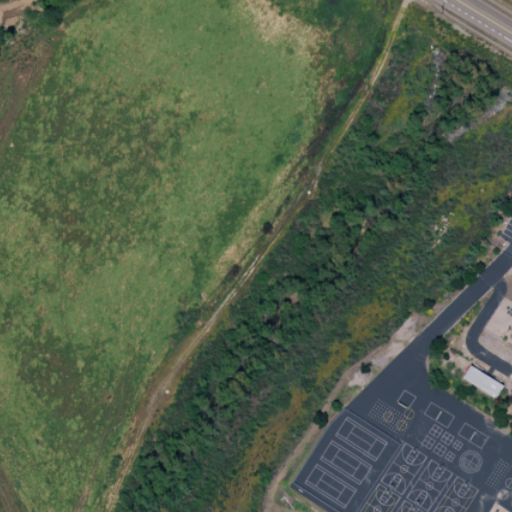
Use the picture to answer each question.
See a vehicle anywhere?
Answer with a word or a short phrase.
No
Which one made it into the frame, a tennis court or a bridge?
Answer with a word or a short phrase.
tennis court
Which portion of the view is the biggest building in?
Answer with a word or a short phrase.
bottom right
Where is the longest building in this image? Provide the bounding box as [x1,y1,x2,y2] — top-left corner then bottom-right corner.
[464,366,504,398]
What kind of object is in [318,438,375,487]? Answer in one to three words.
tennis court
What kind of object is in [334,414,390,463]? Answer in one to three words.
tennis court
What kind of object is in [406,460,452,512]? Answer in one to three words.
basketball court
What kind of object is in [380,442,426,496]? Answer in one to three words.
basketball court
